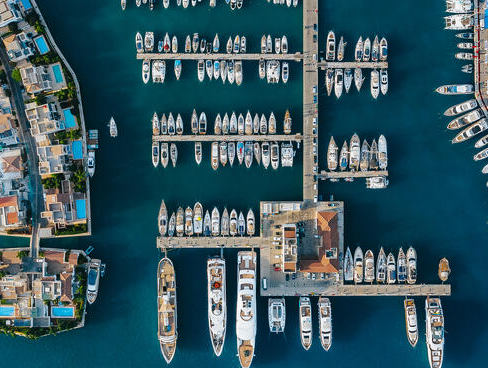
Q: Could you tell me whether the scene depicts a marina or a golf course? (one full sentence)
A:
The picture captures a marina.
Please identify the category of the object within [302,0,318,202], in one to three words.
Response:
pier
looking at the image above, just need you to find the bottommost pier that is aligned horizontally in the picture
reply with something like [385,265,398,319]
[344,284,450,296]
